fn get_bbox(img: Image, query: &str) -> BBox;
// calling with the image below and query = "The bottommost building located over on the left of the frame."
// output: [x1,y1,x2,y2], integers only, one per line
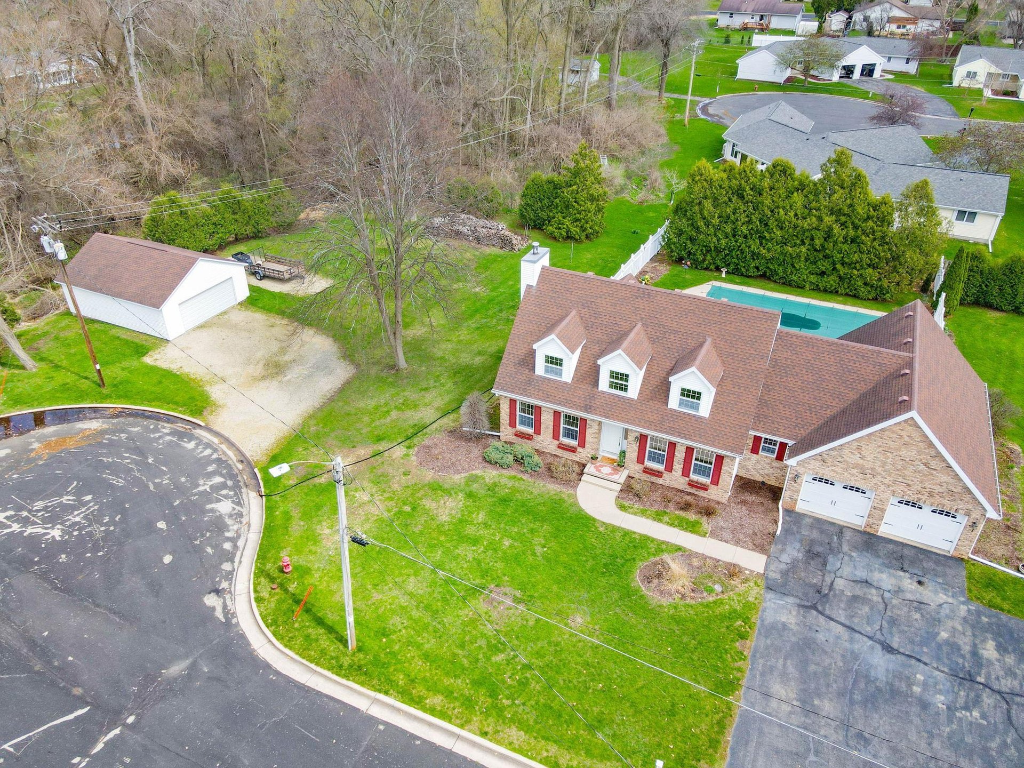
[52,235,251,340]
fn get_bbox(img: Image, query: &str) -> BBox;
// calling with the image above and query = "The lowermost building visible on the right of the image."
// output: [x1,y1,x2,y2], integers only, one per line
[462,242,1024,578]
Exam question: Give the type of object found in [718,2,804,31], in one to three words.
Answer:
house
